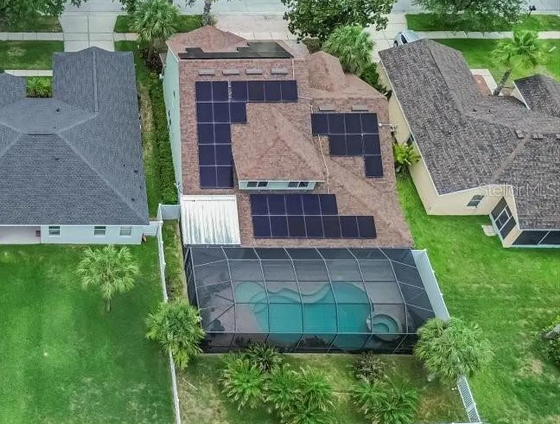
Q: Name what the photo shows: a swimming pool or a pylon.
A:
swimming pool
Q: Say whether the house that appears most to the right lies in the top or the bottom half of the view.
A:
top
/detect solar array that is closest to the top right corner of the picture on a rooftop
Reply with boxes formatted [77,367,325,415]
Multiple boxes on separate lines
[312,112,388,177]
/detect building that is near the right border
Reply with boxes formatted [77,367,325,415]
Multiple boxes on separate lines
[378,38,560,248]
